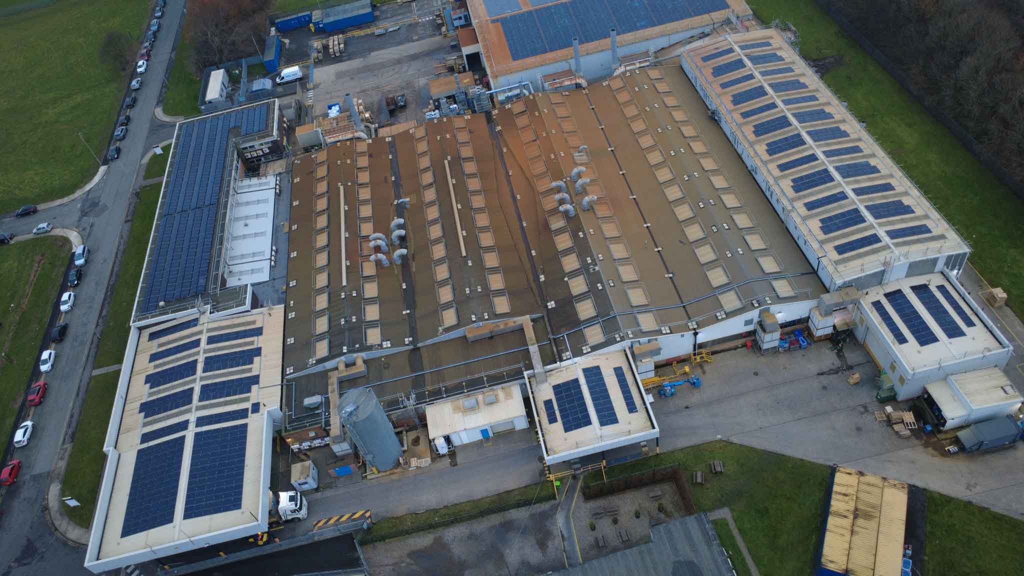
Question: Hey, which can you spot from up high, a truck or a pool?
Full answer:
The image shows a truck.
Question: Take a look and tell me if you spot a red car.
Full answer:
Yes, looking at the shot, I can spot a red car.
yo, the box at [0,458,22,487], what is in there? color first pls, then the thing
red car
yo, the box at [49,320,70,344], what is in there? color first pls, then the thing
black car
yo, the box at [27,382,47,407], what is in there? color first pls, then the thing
red car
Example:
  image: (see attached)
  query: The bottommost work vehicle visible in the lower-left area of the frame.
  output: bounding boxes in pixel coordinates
[246,531,267,547]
